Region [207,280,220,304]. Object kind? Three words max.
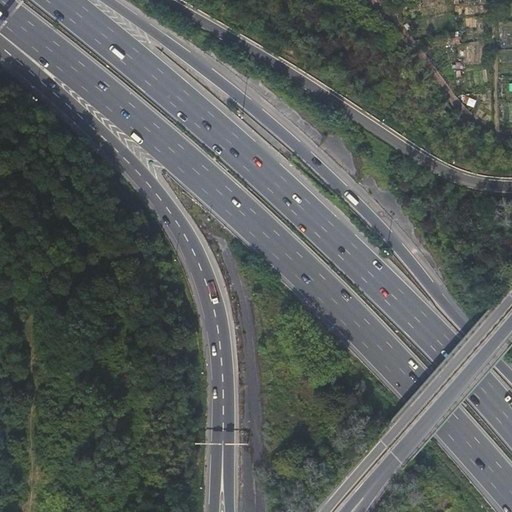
vehicle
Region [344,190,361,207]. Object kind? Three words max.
vehicle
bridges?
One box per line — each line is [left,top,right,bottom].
[374,289,512,466]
